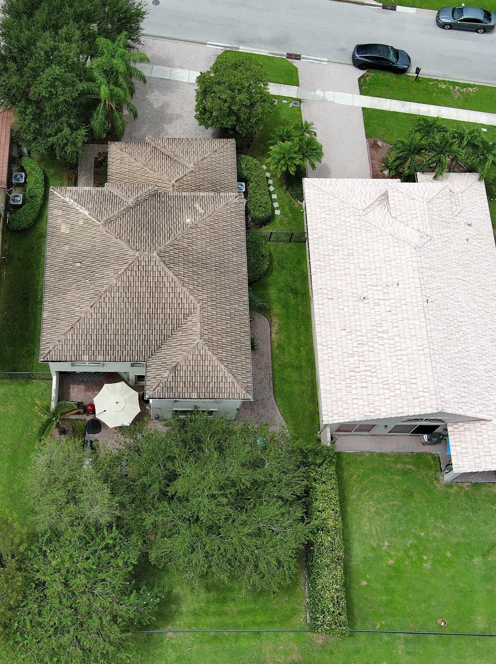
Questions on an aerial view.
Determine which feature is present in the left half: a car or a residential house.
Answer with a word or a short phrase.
residential house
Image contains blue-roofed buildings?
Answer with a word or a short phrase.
No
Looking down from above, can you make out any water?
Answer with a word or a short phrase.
No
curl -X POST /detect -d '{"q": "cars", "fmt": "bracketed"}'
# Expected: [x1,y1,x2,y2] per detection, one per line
[439,4,496,35]
[354,43,413,73]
